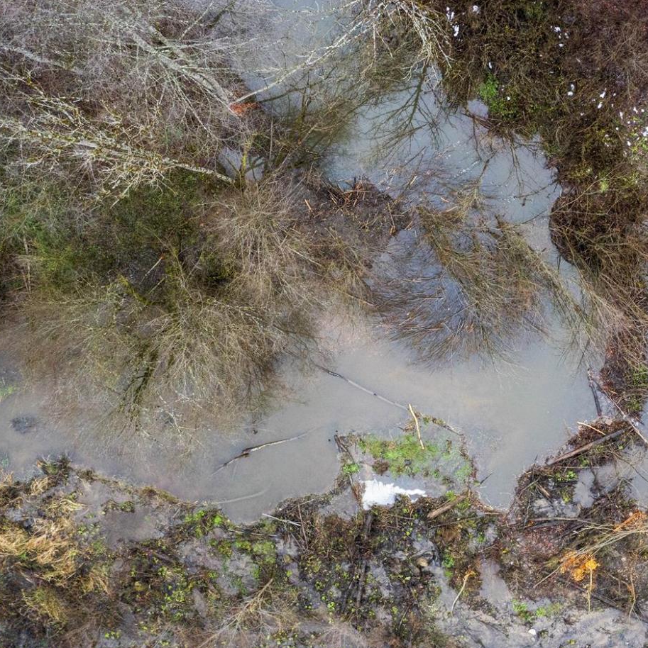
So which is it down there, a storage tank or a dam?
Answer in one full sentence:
The image shows a dam.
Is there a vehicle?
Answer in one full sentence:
No, I can't see a single vehicle in this photo.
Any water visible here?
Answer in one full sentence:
Yes, some water is visible.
